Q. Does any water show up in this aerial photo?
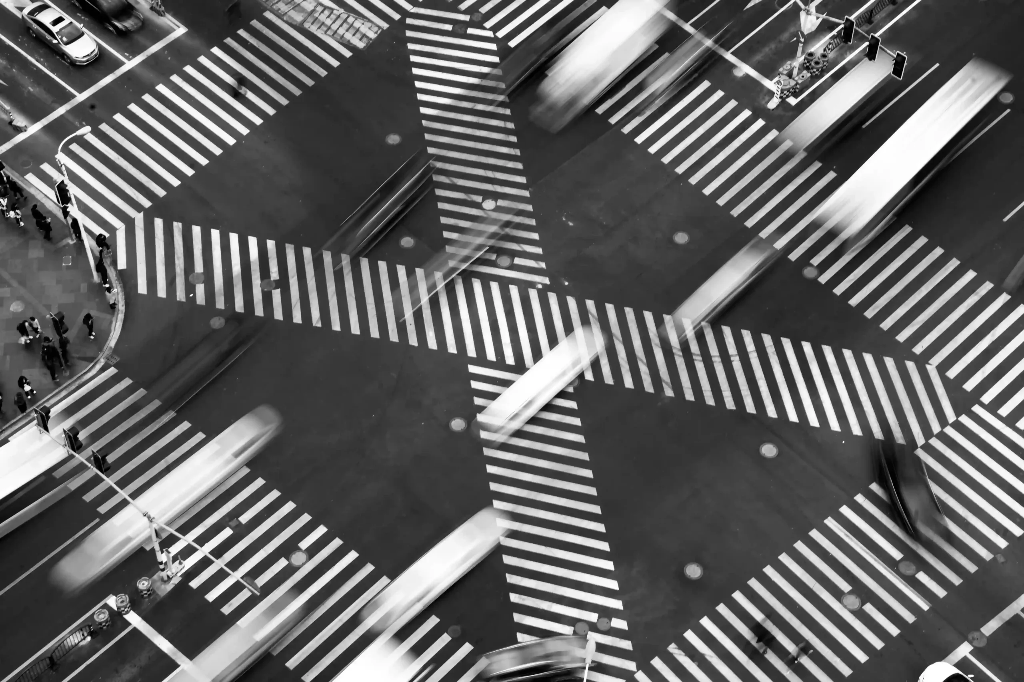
No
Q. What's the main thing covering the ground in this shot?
paved ground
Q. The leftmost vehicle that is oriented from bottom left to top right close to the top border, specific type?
car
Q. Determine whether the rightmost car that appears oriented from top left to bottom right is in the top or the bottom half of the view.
bottom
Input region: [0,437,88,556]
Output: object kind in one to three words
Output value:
vehicle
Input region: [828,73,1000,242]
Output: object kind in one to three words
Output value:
vehicle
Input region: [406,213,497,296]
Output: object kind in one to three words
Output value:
car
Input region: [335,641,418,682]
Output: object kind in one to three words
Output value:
van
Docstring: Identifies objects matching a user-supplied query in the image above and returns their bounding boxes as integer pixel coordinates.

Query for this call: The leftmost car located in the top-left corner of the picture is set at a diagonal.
[18,0,99,66]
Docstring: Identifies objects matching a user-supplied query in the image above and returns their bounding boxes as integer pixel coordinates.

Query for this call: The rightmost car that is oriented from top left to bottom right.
[874,438,955,542]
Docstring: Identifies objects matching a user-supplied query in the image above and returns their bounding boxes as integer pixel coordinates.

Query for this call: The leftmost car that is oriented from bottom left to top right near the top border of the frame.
[500,3,577,76]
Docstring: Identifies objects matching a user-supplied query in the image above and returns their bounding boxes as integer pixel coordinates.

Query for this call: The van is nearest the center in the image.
[485,339,584,430]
